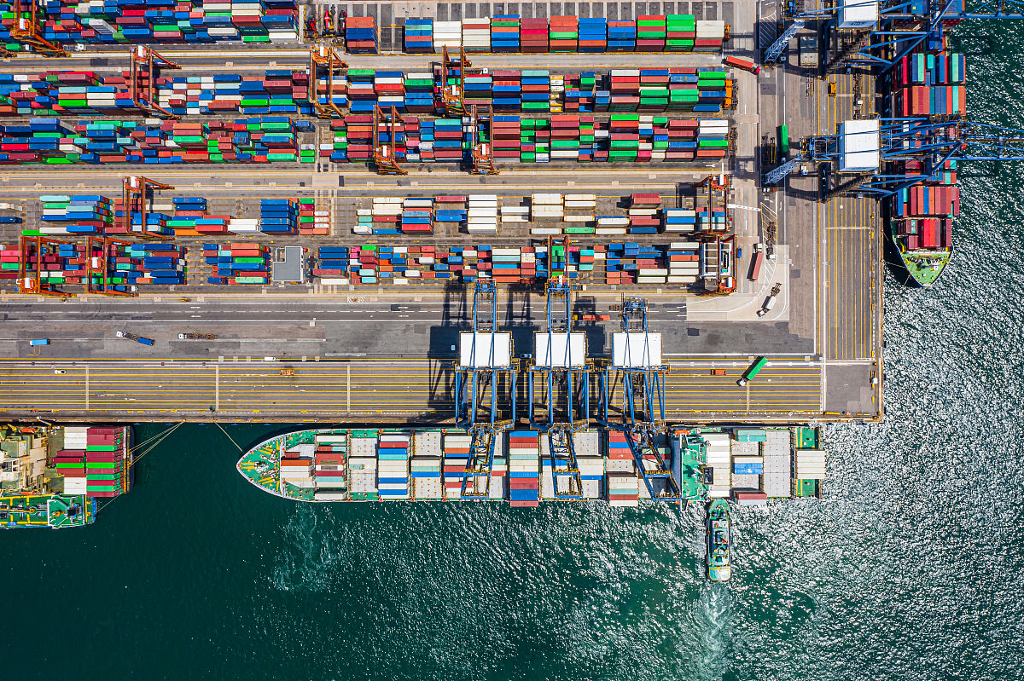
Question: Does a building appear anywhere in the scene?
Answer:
Yes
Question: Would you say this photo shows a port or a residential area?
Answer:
port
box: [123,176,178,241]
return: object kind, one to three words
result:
container crane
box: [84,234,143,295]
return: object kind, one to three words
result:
container crane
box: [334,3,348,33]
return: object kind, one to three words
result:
work vehicle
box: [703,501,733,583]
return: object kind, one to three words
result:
boat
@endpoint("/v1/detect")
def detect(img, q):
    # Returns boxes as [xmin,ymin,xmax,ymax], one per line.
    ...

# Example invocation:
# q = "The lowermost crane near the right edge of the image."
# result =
[766,105,1024,207]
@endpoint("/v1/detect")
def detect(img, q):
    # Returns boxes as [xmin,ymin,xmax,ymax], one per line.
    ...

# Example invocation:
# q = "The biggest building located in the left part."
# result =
[272,244,306,281]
